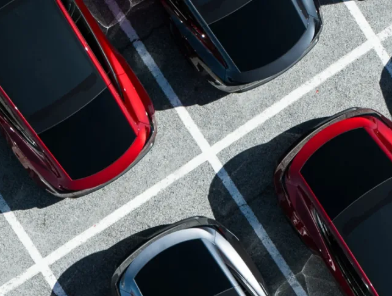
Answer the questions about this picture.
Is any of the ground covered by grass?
No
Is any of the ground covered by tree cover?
No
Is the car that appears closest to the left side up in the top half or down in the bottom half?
top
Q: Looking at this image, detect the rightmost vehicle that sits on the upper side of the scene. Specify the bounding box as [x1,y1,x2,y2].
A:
[153,0,327,95]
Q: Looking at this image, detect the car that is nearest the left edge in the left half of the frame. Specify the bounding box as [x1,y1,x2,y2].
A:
[0,0,160,202]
